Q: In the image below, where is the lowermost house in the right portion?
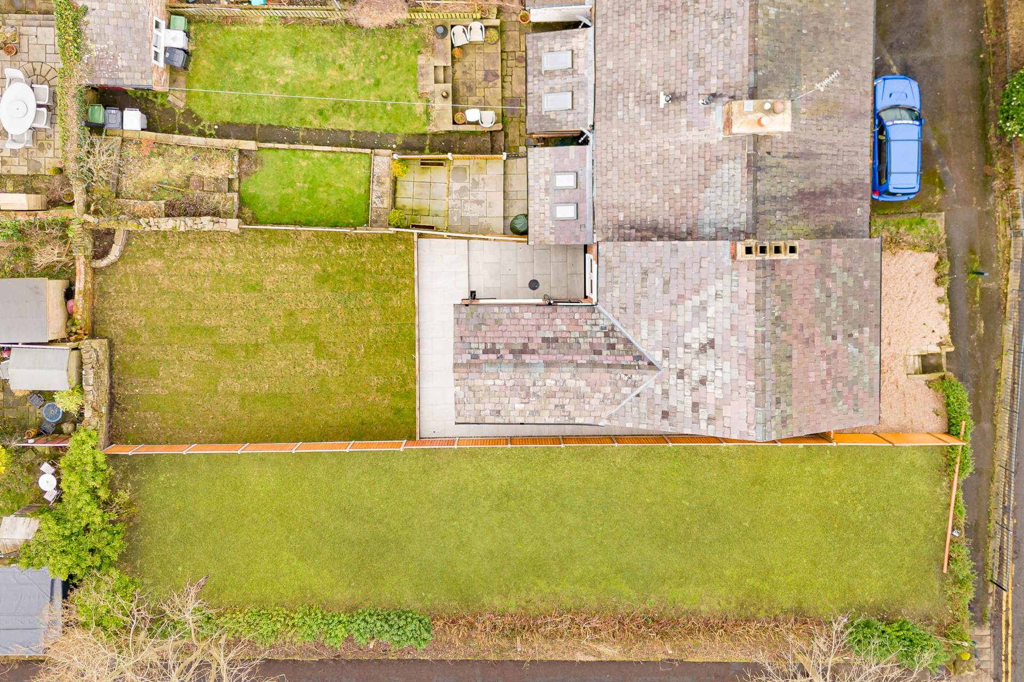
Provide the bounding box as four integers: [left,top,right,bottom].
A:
[451,238,884,442]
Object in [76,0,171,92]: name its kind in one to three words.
shed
